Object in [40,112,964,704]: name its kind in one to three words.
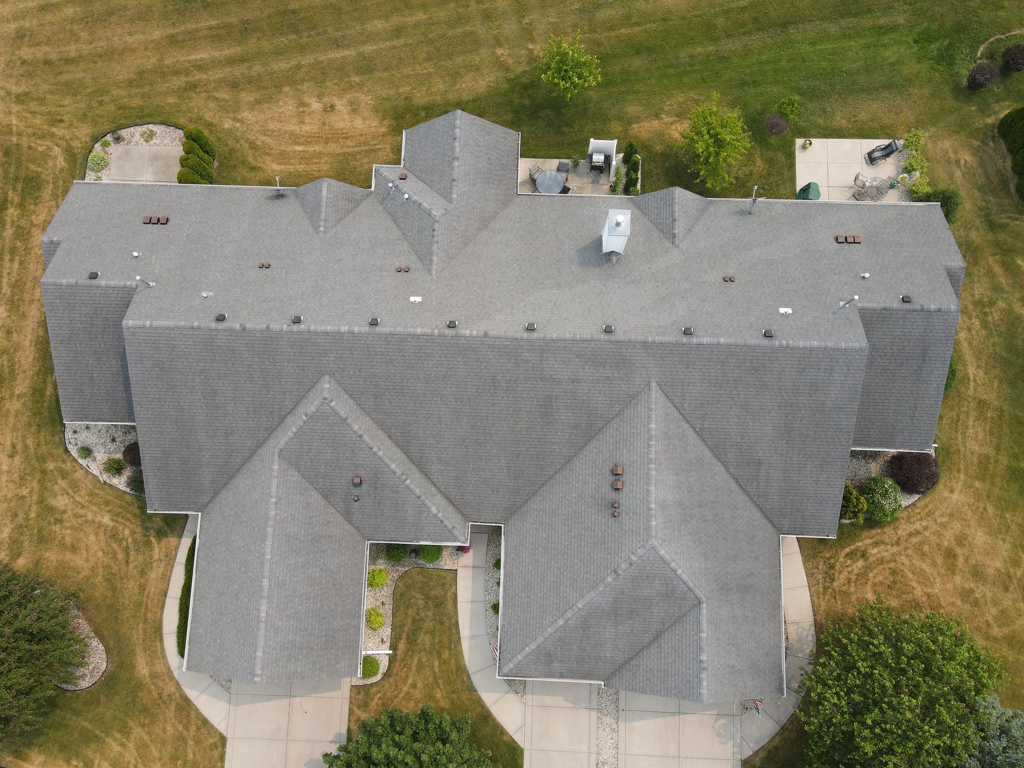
house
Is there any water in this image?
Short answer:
No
